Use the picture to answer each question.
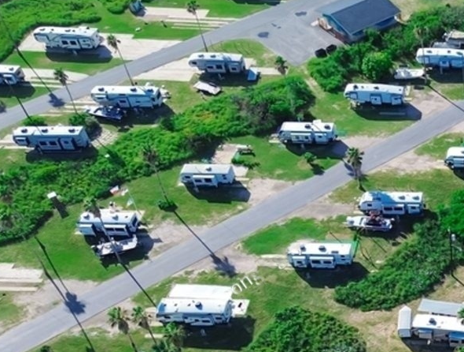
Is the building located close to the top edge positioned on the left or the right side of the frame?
right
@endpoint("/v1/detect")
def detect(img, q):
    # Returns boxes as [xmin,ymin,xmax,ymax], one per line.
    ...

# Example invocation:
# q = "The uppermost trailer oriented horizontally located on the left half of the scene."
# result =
[37,25,109,53]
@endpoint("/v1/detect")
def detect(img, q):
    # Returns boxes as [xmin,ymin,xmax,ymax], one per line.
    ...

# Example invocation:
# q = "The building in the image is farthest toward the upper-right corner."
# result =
[318,0,401,43]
